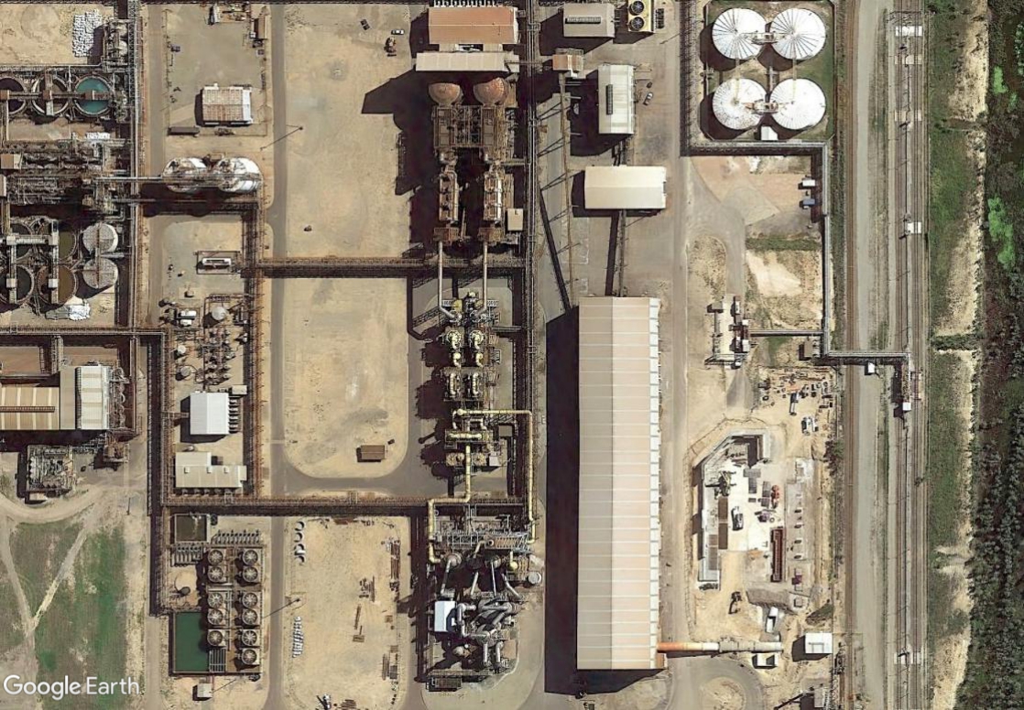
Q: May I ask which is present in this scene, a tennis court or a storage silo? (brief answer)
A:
storage silo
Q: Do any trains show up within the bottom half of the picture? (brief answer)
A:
No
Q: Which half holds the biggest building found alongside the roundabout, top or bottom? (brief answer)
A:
bottom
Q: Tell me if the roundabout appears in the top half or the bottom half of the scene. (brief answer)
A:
bottom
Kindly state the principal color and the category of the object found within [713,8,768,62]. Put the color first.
white storage tank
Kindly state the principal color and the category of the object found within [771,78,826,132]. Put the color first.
white storage tank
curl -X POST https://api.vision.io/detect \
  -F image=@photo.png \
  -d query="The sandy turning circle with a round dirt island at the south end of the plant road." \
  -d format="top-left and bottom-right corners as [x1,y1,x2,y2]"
[669,655,766,710]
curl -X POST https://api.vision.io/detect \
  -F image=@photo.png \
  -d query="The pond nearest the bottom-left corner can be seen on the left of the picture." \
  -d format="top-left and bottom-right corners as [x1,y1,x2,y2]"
[172,612,212,673]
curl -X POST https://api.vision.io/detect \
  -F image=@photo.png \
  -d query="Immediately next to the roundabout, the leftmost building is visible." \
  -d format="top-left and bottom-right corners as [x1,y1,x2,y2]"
[579,298,668,670]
